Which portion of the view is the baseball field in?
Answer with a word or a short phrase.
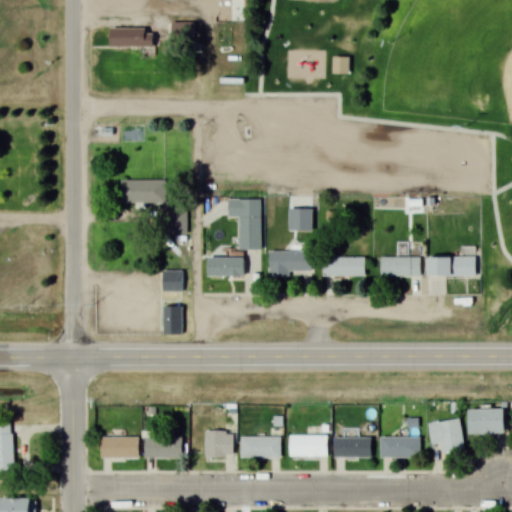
top right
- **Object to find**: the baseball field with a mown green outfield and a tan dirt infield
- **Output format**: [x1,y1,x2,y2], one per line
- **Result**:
[384,0,512,124]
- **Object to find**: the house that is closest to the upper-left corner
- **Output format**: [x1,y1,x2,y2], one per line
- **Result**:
[109,28,153,46]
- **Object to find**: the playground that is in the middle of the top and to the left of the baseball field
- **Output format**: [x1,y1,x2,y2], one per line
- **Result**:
[287,50,327,84]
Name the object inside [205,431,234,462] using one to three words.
house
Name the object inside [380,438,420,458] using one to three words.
house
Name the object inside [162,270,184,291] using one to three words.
building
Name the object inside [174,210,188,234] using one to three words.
building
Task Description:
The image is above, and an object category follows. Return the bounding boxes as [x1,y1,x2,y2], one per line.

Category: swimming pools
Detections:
[410,428,421,438]
[366,408,378,420]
